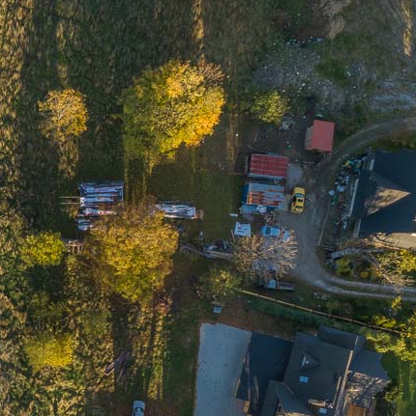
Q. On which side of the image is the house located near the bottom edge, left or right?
right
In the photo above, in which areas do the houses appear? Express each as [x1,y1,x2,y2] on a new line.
[340,151,416,256]
[227,322,390,416]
